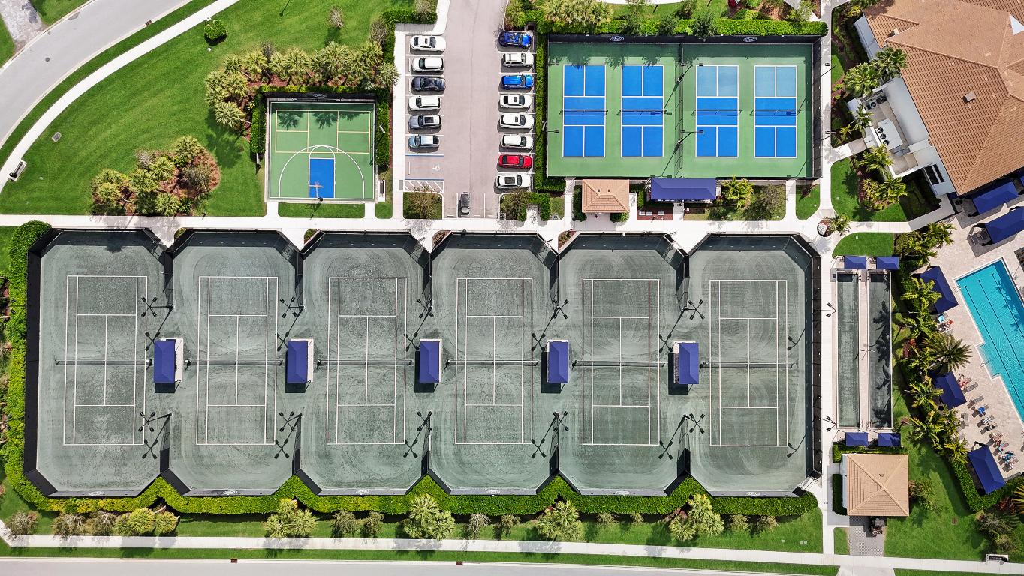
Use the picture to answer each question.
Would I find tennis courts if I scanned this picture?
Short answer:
Yes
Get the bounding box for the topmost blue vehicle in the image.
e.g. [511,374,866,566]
[500,28,532,46]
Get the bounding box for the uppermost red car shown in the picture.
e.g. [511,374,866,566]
[499,152,532,168]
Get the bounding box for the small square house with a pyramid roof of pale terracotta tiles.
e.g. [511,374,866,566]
[841,454,910,517]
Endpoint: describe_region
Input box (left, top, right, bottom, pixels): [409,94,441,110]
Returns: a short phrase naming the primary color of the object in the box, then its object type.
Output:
white car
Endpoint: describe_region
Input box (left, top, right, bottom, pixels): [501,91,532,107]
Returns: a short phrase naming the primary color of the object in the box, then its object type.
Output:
white car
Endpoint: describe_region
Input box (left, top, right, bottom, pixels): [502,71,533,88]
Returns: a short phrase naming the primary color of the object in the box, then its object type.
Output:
blue car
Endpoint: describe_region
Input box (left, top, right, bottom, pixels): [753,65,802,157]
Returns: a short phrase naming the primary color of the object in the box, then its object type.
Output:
blue sports court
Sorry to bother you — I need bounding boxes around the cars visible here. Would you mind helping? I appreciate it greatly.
[408,133,439,148]
[411,74,445,90]
[499,152,532,168]
[500,28,532,46]
[411,54,444,71]
[411,33,445,50]
[502,71,533,88]
[409,94,441,110]
[498,172,531,188]
[501,91,532,107]
[409,112,441,129]
[503,49,534,67]
[501,111,533,128]
[502,132,533,148]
